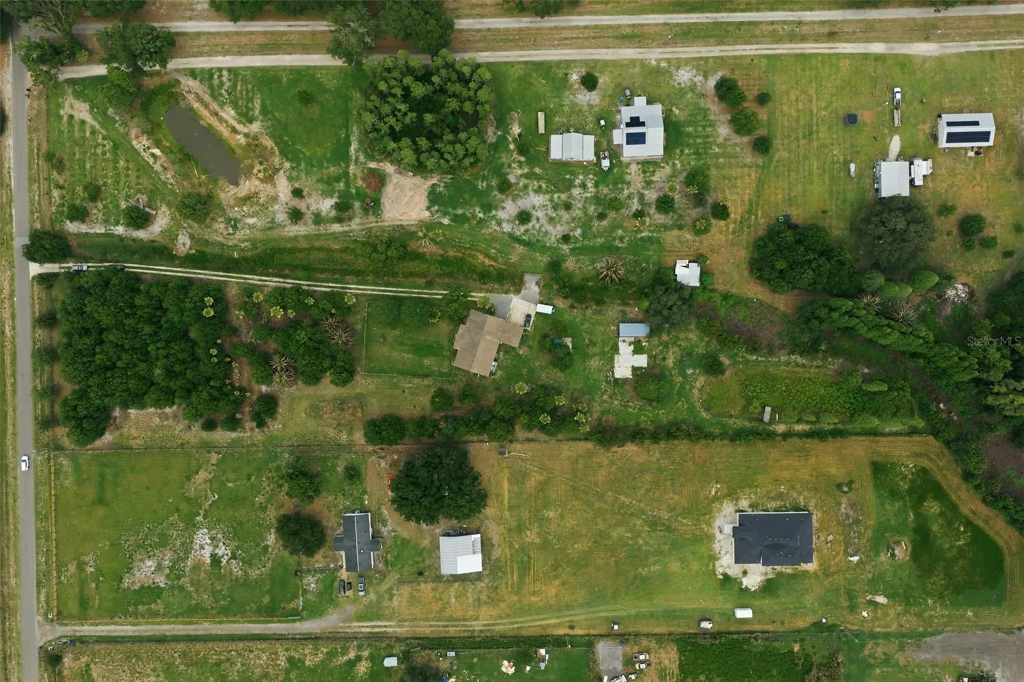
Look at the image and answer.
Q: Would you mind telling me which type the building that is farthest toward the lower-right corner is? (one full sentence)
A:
It looks like the building that is farthest toward the lower-right corner is a home.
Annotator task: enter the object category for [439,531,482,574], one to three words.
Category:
barn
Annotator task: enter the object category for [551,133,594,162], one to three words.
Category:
shed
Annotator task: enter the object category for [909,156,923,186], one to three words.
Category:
camper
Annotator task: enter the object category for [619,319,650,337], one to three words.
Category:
shed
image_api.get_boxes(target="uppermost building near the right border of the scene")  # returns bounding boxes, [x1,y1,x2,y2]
[935,112,996,149]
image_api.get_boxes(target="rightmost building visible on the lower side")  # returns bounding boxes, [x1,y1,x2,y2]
[731,512,813,566]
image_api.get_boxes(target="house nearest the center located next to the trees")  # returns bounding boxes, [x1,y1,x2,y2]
[454,309,524,377]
